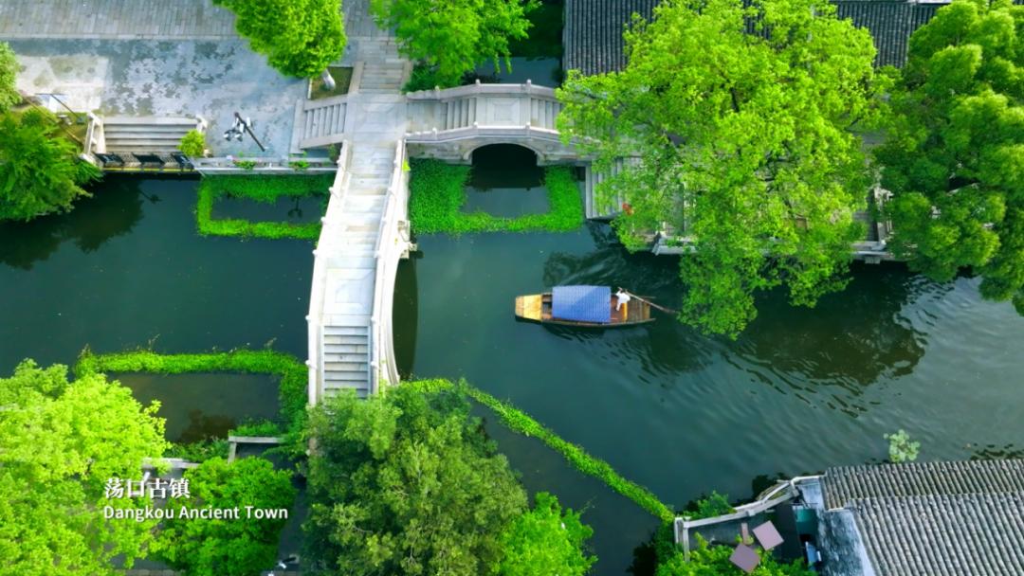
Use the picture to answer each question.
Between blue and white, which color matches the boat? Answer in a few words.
blue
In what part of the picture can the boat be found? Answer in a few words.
center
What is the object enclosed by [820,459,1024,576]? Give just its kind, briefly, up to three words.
house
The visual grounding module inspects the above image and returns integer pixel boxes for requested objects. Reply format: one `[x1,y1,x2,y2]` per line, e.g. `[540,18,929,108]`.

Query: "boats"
[516,283,661,325]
